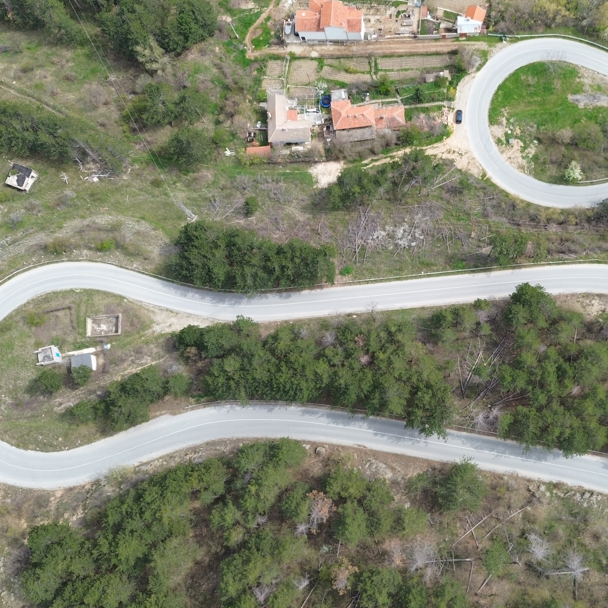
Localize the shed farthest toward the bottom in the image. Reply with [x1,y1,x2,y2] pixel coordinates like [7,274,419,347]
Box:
[71,353,98,373]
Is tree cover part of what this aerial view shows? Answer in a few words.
Yes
